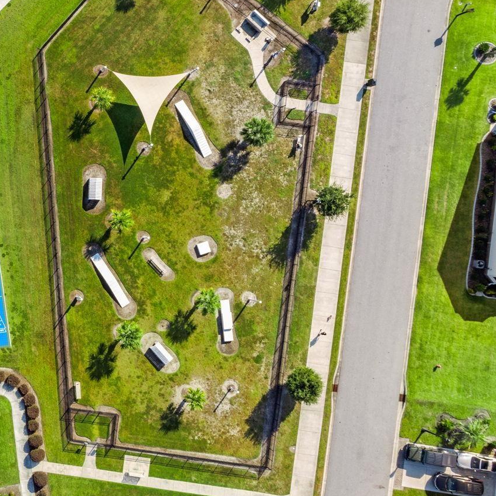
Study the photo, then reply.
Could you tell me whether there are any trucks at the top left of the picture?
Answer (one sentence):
No, at the top left of the picture there is no truck.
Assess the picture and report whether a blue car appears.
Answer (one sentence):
No, I can see no blue car in this picture.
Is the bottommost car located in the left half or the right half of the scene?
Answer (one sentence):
The bottommost car is on the right side of the image.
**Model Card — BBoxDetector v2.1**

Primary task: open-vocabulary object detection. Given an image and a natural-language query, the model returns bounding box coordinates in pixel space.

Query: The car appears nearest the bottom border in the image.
[433,471,484,496]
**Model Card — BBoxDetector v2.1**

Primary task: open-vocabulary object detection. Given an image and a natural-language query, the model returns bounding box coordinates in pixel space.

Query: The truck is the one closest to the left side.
[403,440,456,466]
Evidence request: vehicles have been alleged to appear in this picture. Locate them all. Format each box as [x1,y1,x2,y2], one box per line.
[433,471,484,496]
[454,449,496,473]
[403,440,456,466]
